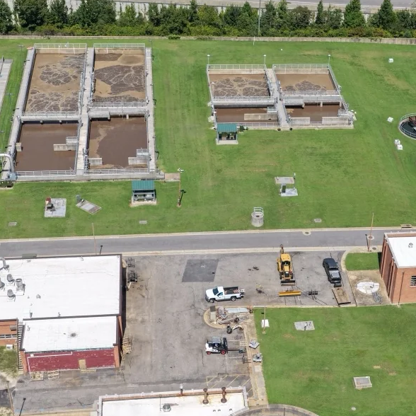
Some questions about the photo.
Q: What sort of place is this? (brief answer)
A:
industrial area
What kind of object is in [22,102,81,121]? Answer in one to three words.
bridge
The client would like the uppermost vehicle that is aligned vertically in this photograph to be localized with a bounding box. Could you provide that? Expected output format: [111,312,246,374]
[278,244,293,283]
